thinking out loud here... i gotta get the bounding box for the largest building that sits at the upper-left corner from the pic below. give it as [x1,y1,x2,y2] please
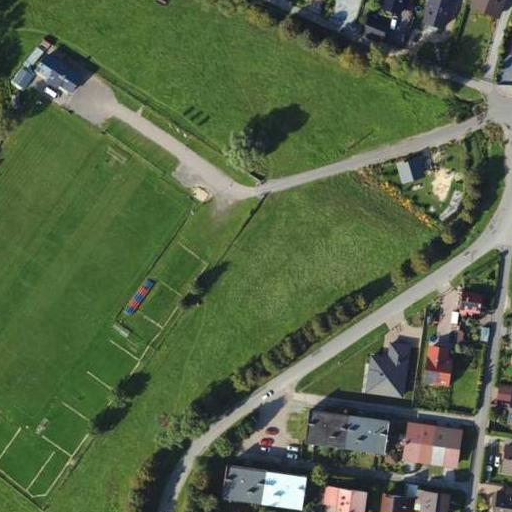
[36,53,84,94]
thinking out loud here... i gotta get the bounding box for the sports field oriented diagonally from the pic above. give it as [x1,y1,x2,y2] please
[0,203,209,504]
